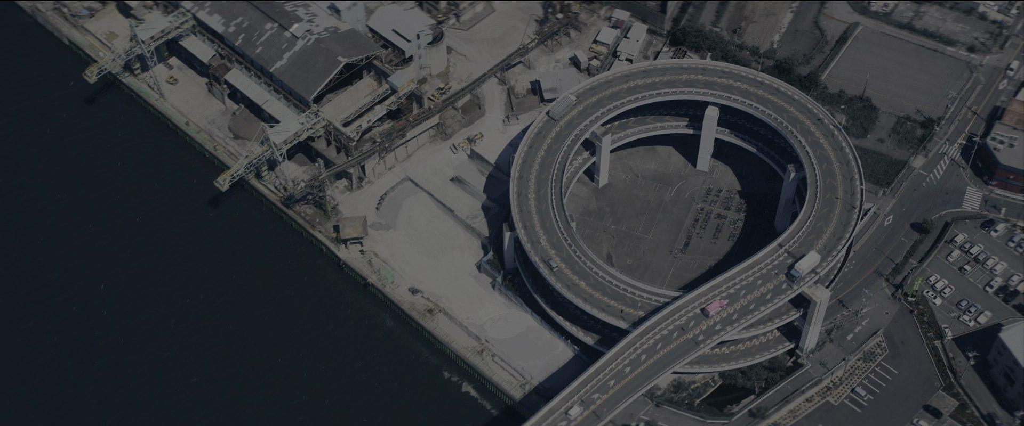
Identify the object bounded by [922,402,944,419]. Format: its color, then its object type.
black car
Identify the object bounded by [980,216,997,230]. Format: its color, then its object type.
black car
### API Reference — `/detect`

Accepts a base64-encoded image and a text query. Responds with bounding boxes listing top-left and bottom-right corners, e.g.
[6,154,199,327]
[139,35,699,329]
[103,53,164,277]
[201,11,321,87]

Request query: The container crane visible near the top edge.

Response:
[80,8,204,102]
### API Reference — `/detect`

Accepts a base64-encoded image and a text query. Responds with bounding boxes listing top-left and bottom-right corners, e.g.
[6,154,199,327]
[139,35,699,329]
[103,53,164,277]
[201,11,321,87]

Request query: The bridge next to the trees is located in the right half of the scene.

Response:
[502,58,871,426]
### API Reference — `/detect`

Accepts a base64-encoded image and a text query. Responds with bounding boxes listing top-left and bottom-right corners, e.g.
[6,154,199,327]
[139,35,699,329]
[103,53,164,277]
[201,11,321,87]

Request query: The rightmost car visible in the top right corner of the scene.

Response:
[1008,58,1020,73]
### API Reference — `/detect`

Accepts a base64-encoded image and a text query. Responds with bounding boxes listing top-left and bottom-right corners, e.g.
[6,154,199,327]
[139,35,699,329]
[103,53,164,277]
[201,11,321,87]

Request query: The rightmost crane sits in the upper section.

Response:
[210,104,338,206]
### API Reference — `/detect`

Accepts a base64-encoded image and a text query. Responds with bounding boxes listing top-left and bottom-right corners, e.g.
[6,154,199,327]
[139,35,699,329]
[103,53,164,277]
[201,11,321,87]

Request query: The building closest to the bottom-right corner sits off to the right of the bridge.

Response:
[985,322,1024,413]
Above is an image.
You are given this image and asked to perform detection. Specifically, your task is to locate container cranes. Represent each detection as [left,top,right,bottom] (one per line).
[210,104,338,206]
[80,8,204,102]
